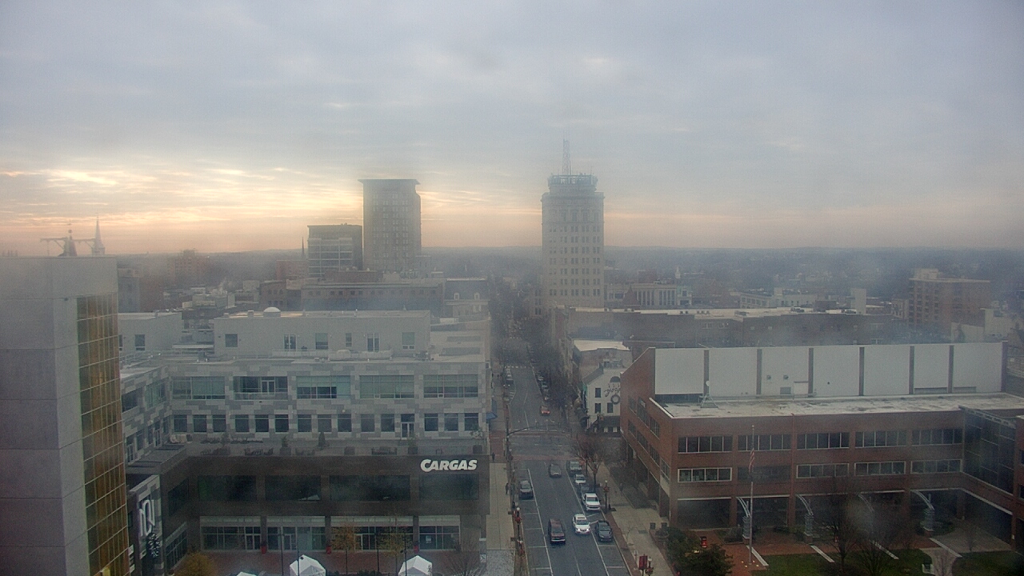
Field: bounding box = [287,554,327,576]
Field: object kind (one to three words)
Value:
tent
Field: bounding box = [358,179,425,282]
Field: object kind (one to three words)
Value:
building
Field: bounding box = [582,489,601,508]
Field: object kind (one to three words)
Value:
vehicle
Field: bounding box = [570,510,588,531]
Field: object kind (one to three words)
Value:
car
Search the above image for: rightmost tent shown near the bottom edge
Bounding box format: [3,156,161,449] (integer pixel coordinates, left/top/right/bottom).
[397,553,435,576]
